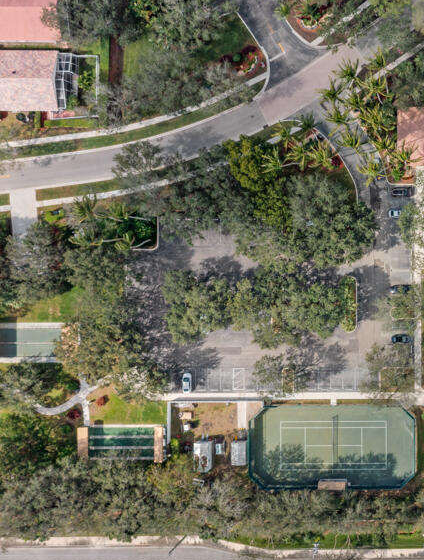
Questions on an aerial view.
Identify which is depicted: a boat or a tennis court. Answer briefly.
tennis court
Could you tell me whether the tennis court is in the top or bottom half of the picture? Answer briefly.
bottom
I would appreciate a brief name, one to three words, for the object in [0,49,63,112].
house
